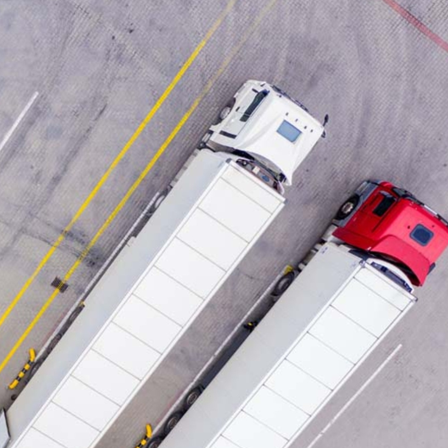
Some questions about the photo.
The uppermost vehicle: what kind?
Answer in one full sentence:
Specifically, the uppermost vehicle is a truck.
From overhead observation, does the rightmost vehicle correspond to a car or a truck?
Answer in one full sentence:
I'd identify the rightmost vehicle as a truck.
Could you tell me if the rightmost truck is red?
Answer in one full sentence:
Yes, the rightmost truck is red.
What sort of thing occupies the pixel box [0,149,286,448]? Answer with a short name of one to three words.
trailer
